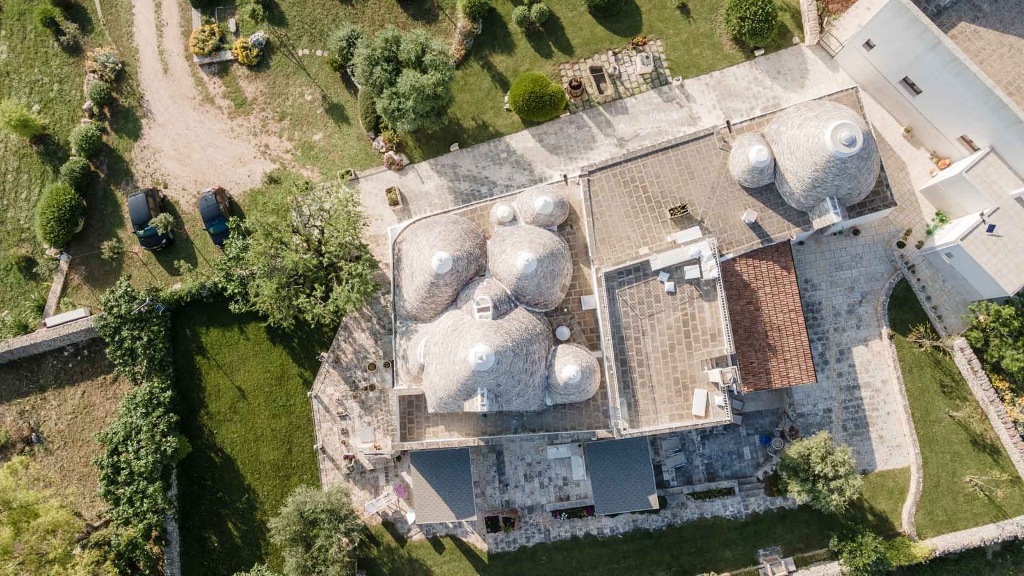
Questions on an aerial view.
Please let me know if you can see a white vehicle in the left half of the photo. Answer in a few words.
No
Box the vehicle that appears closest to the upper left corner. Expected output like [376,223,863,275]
[132,190,172,255]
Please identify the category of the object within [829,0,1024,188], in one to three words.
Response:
house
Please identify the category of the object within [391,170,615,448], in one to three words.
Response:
house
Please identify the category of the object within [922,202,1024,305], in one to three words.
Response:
shed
